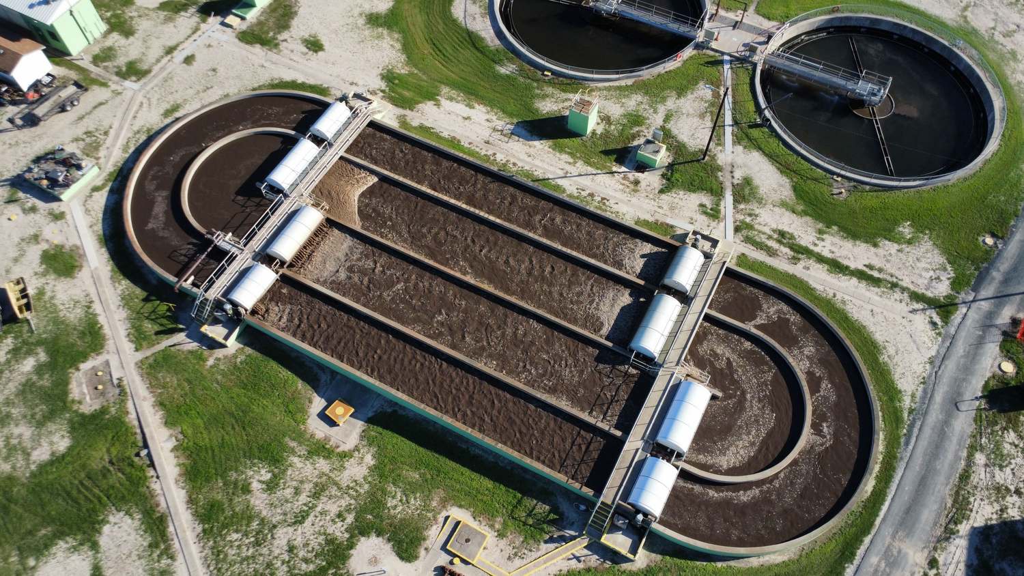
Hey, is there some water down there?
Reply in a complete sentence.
Yes, the picture does contain water.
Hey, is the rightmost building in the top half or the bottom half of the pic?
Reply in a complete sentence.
Seen from above, the rightmost building lies in the top half of the view.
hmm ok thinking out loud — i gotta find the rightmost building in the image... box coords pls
[636,140,666,167]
